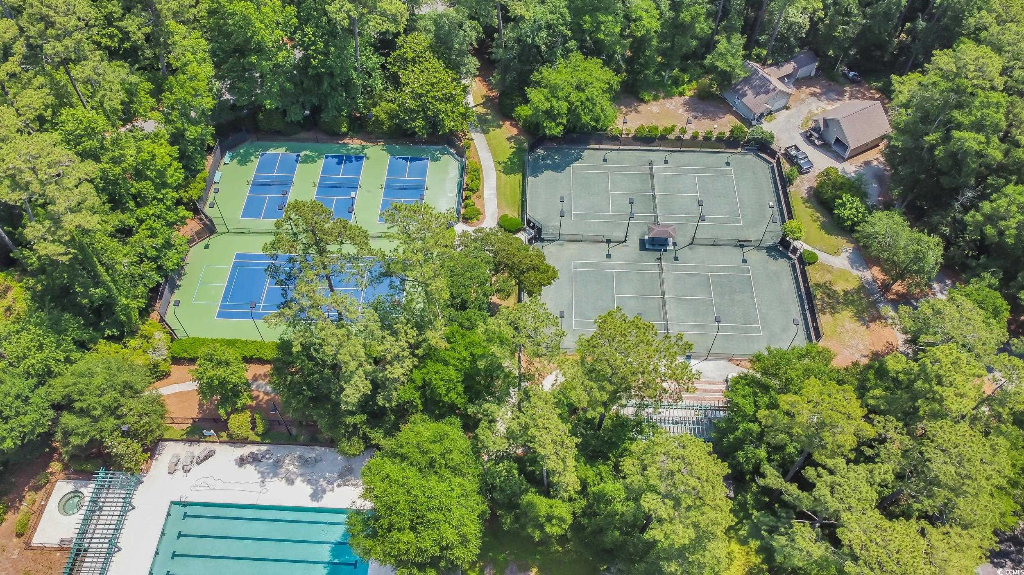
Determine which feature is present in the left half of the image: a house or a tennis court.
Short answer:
tennis court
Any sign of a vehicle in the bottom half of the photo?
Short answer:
No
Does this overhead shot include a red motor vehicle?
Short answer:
No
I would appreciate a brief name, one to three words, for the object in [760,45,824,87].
shed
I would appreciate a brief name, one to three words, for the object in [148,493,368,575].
swimming pool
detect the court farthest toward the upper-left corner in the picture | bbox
[239,152,300,220]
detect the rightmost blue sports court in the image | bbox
[377,155,430,223]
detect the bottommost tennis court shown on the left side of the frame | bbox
[187,253,405,327]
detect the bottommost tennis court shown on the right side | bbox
[522,240,810,358]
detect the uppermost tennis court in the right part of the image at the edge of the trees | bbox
[526,147,783,246]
